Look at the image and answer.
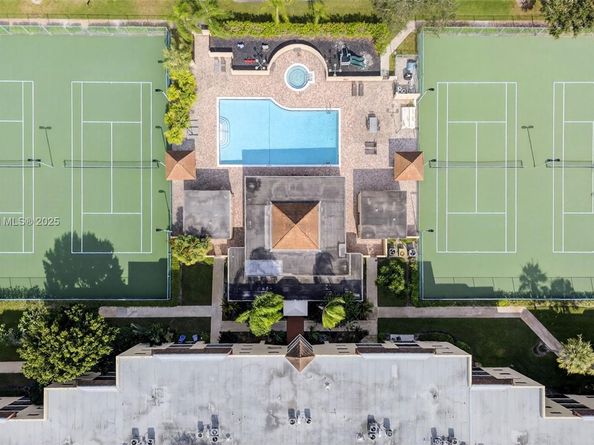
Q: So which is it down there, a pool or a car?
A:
pool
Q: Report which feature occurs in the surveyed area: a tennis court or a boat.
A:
tennis court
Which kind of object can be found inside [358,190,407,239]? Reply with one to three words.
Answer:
building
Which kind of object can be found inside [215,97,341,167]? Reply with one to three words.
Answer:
swimming pool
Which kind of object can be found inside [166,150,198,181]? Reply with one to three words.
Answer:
gazebo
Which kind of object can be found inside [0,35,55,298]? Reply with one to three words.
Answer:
tennis court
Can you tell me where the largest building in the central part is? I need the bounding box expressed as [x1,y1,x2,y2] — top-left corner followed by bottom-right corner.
[228,176,363,316]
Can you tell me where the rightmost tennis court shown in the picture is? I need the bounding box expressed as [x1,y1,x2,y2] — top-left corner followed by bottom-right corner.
[533,35,594,298]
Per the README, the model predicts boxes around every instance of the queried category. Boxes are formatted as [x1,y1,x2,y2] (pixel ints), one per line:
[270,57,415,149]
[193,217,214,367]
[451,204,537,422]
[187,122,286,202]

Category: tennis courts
[533,35,594,298]
[0,35,55,298]
[418,35,538,298]
[50,35,172,298]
